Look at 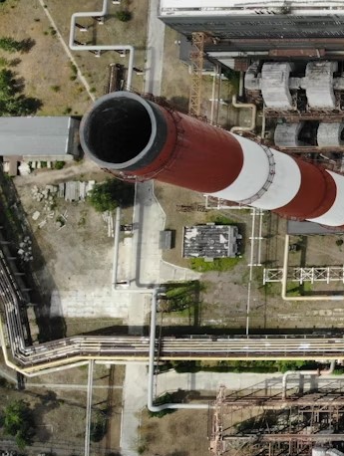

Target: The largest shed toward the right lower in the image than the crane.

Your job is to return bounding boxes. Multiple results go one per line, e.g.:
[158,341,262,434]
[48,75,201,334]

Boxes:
[183,224,243,259]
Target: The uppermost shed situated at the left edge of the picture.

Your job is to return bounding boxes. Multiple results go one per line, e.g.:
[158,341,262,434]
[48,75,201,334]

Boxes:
[0,116,84,159]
